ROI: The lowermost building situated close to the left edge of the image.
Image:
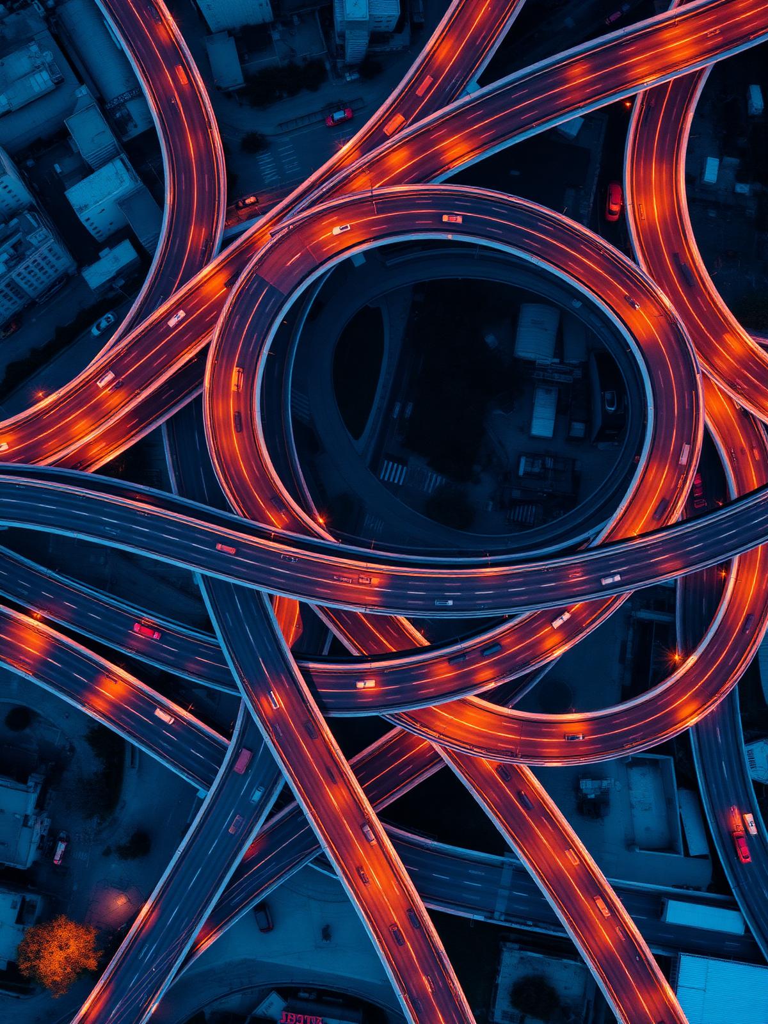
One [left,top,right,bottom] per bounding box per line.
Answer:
[0,876,53,969]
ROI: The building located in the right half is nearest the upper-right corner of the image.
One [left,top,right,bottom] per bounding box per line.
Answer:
[552,118,583,145]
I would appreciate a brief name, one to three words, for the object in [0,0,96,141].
building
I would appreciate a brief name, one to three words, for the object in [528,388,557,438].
building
